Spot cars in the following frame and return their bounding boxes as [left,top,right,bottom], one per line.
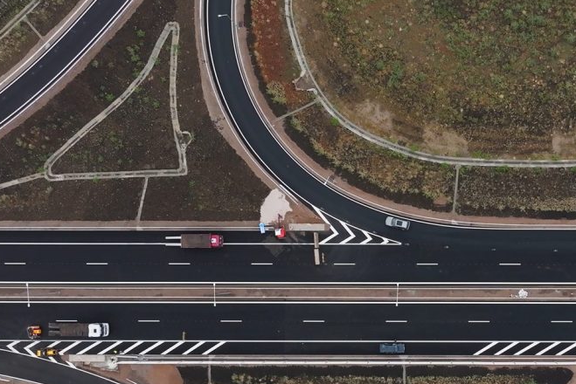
[385,216,411,229]
[380,341,405,353]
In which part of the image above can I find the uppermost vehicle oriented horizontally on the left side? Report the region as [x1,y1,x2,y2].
[165,232,224,248]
